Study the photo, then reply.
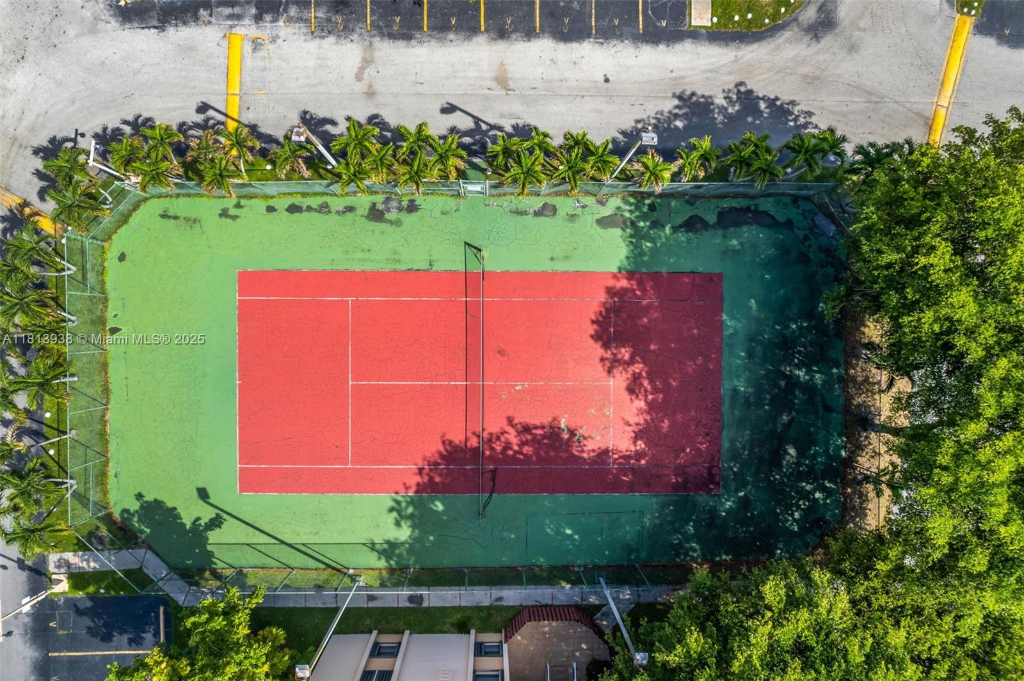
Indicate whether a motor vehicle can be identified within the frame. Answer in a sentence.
No, the picture doesn't show any motor vehicle.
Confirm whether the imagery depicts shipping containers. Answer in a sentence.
No, the picture doesn't show any shipping container.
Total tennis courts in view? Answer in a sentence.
I count just 1 tennis court.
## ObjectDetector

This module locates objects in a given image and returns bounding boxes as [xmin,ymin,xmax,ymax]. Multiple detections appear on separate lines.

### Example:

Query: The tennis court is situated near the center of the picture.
[106,194,846,570]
